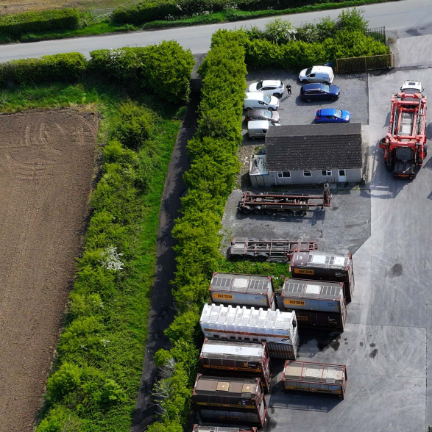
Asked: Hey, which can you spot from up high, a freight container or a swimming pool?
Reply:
freight container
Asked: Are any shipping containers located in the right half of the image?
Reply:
Yes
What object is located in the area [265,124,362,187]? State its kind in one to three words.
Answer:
building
